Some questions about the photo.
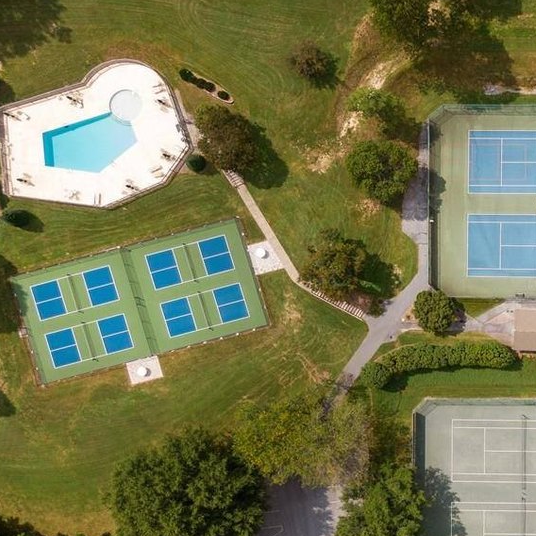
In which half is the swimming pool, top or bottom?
top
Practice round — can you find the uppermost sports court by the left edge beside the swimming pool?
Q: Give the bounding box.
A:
[12,247,136,331]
